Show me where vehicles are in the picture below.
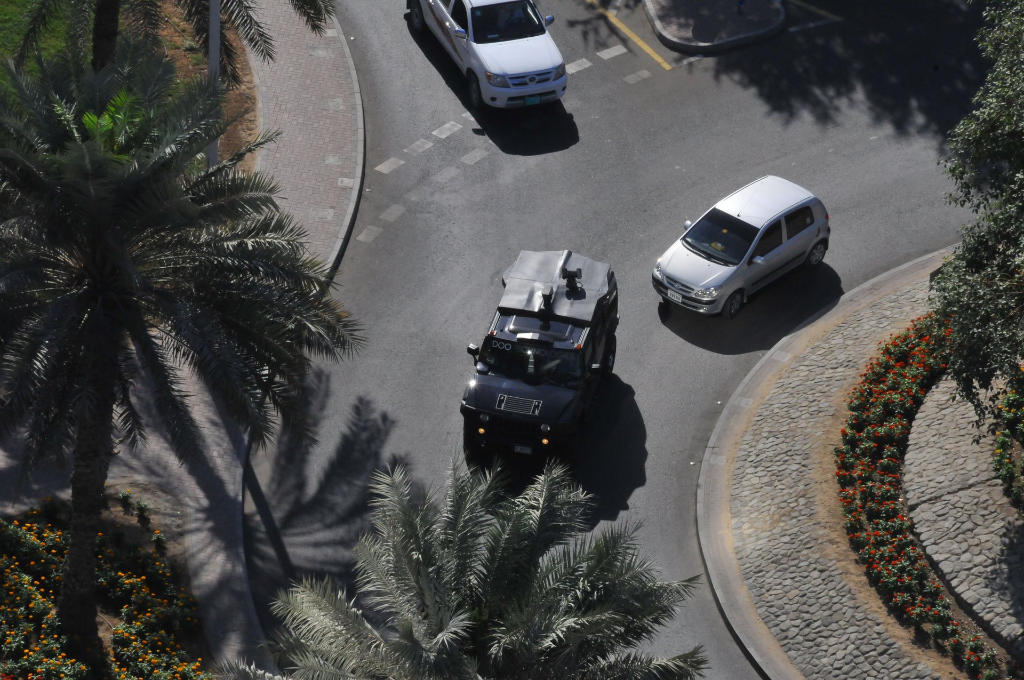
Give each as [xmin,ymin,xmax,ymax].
[462,250,615,458]
[645,175,832,321]
[408,0,571,112]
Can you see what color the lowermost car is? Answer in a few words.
black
